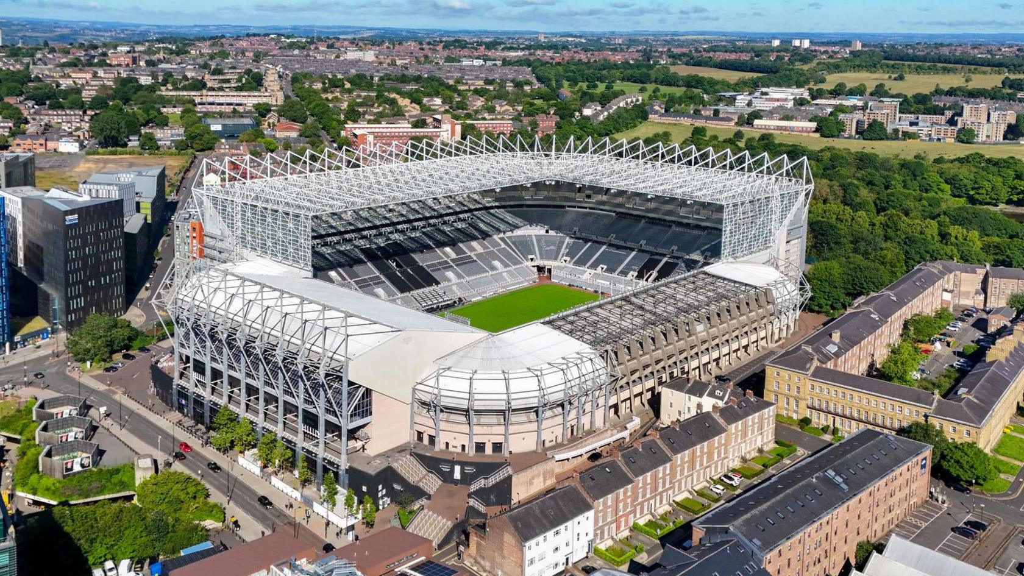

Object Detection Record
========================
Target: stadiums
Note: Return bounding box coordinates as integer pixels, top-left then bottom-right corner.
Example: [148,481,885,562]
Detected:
[139,132,819,548]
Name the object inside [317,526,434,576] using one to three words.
building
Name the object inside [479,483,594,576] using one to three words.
house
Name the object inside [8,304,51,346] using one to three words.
building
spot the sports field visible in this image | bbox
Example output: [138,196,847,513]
[433,284,608,333]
